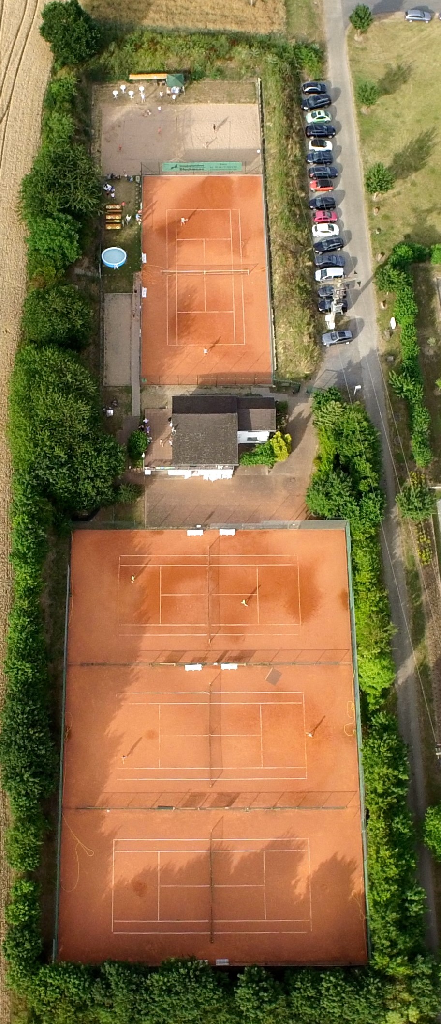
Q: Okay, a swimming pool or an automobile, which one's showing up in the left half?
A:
swimming pool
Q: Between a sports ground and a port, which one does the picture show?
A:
sports ground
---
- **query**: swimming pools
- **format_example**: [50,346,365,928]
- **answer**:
[101,246,127,272]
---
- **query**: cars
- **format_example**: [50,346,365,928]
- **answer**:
[306,151,333,166]
[306,111,332,125]
[315,267,345,283]
[302,93,333,112]
[309,179,334,193]
[306,123,336,139]
[309,197,337,211]
[317,285,347,300]
[314,210,338,225]
[314,237,345,255]
[308,139,333,153]
[312,223,340,238]
[405,9,432,24]
[302,82,327,95]
[308,165,338,181]
[315,254,345,269]
[321,331,354,347]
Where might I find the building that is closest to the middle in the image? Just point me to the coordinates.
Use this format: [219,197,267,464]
[145,395,278,480]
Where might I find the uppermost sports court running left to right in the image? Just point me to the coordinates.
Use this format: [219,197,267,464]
[101,102,263,174]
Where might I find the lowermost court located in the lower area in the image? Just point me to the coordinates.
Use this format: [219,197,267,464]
[55,808,373,967]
